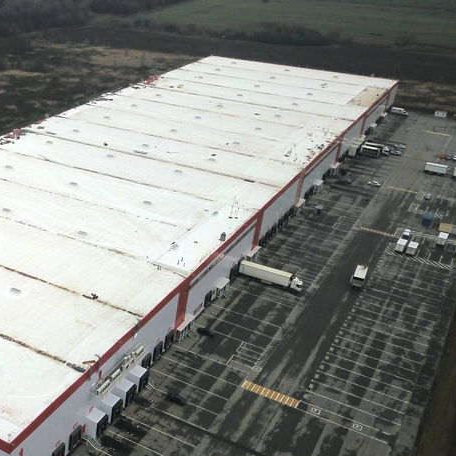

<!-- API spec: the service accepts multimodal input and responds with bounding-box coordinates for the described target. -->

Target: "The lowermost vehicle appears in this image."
[165,389,186,404]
